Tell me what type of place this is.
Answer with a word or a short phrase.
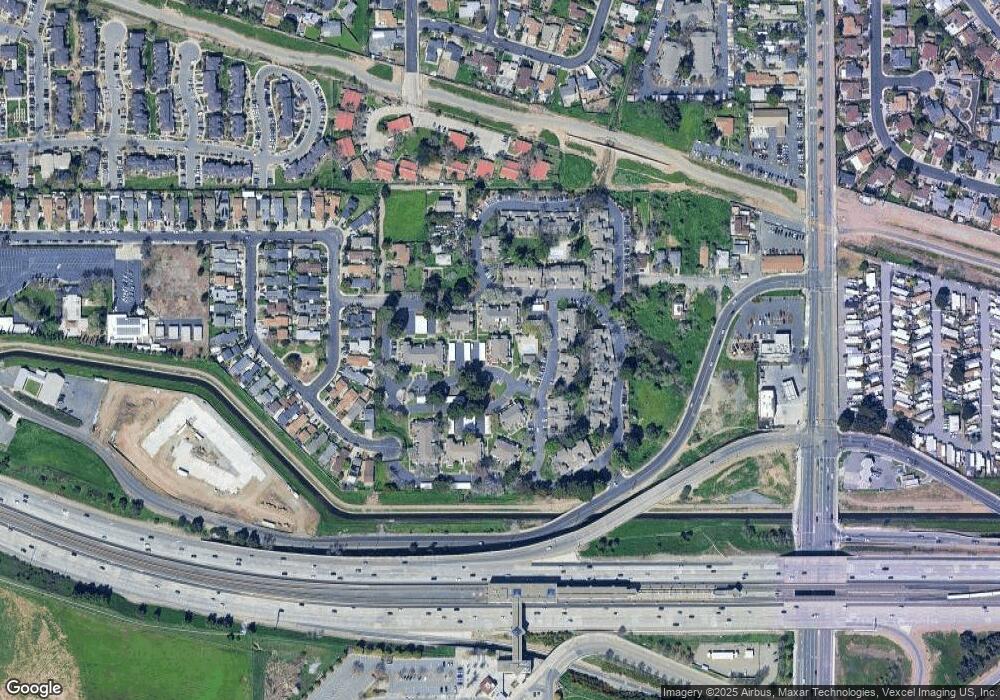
residential area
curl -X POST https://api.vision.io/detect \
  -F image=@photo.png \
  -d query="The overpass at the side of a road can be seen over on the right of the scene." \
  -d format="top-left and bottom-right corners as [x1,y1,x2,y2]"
[786,556,851,632]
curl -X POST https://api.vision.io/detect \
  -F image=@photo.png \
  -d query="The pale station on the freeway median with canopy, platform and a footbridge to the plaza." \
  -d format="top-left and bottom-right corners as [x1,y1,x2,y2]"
[486,585,741,674]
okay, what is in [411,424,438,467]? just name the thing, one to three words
building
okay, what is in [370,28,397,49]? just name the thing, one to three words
house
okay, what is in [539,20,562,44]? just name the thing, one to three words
house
